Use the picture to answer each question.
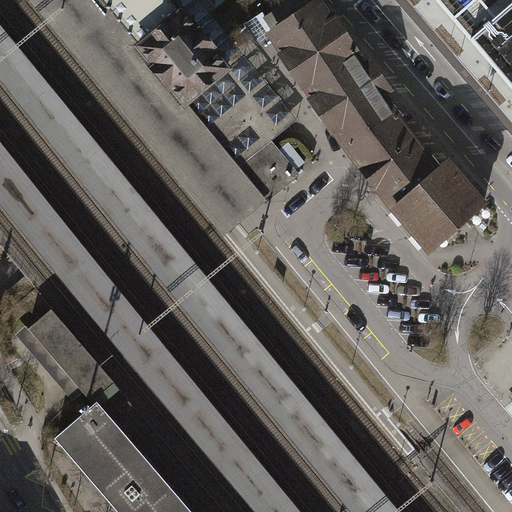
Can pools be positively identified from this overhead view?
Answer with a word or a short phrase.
No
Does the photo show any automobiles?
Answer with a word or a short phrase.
Yes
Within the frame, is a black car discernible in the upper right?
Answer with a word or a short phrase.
Yes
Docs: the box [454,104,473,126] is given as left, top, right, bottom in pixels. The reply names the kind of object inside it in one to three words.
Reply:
car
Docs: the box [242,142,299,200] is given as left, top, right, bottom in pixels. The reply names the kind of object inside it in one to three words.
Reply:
building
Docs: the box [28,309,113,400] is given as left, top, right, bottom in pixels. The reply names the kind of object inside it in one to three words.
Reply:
building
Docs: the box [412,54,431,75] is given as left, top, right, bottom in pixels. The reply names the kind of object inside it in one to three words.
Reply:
car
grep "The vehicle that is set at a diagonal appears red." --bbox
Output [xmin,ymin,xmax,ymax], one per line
[454,416,474,434]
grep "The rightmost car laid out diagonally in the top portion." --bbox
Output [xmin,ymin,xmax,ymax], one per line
[482,131,501,152]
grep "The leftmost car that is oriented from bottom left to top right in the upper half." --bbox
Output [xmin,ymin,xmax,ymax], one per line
[284,194,306,214]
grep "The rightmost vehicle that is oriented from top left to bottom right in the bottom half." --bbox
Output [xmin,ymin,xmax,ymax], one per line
[346,310,364,332]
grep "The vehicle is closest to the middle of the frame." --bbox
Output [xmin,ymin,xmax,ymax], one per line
[290,242,310,264]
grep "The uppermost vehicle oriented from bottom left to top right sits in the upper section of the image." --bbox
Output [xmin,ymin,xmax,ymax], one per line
[309,173,330,192]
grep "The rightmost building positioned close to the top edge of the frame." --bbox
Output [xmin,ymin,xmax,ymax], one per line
[438,0,512,91]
